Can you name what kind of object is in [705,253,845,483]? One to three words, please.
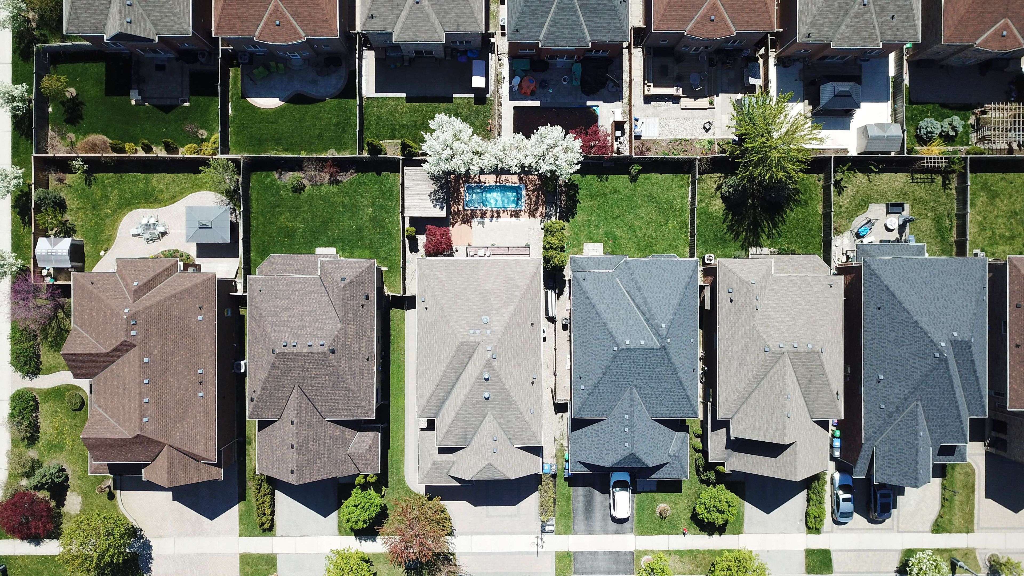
house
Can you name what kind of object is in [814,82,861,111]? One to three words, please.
gazebo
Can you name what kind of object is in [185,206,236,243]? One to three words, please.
gazebo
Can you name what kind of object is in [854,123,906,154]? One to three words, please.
shed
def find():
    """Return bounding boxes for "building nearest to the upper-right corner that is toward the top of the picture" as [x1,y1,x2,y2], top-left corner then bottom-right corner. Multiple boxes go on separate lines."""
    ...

[911,0,1024,67]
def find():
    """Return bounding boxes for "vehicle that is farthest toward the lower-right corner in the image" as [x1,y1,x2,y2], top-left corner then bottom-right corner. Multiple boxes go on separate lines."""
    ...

[865,473,891,522]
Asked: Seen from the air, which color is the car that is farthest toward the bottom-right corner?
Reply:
black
